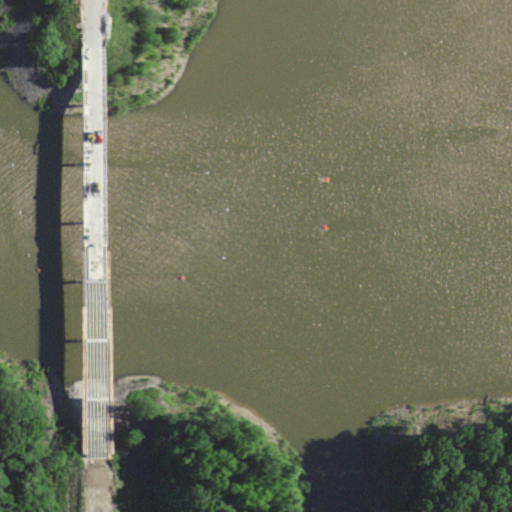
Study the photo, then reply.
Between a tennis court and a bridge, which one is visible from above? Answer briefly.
bridge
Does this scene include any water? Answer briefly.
Yes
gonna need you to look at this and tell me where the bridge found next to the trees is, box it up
[82,44,113,470]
